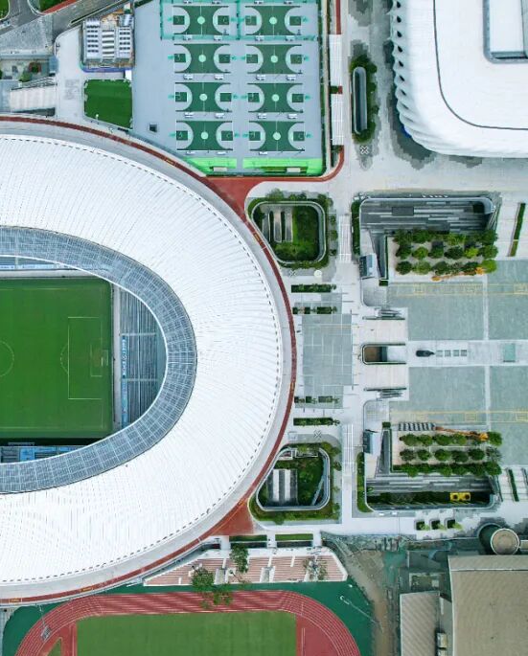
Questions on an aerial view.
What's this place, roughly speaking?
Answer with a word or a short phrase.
sports ground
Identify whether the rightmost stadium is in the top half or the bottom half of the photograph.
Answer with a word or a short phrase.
top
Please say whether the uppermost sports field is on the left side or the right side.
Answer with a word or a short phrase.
left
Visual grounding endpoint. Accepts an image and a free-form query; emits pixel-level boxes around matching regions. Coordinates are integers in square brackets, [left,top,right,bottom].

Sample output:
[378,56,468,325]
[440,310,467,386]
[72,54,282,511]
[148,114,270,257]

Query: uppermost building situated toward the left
[79,3,135,75]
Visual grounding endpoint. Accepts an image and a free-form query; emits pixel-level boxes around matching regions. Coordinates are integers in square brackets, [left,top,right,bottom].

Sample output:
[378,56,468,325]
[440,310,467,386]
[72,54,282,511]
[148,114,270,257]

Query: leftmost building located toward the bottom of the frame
[360,429,376,454]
